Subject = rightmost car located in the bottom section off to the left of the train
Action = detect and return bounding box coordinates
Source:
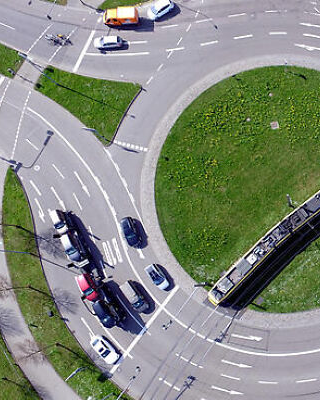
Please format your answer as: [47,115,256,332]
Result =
[146,263,172,292]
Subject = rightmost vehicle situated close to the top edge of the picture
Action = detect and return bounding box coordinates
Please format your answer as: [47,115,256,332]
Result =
[149,0,181,21]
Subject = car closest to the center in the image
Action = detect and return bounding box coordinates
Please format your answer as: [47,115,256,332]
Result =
[122,216,144,248]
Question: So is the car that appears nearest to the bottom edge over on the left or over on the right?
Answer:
left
